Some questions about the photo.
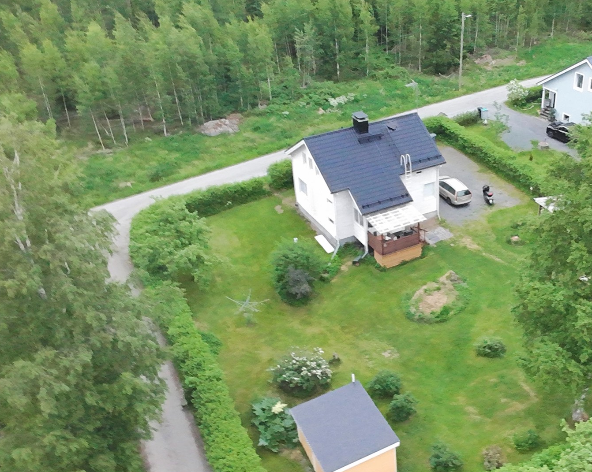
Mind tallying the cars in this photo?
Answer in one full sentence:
Looking from above, you can make out 2 cars.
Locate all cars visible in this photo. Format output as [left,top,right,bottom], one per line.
[438,179,471,205]
[542,122,583,143]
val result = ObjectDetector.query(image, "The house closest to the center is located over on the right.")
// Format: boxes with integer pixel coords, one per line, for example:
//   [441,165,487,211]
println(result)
[283,107,446,256]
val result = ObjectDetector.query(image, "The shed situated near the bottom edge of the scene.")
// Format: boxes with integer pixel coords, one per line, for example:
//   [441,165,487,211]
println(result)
[288,378,403,472]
